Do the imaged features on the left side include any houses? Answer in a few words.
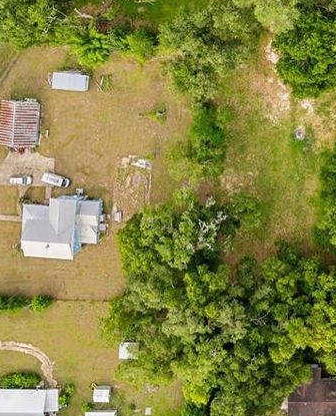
Yes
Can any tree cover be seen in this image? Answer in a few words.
Yes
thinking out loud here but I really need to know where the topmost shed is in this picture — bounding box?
[51,71,93,91]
